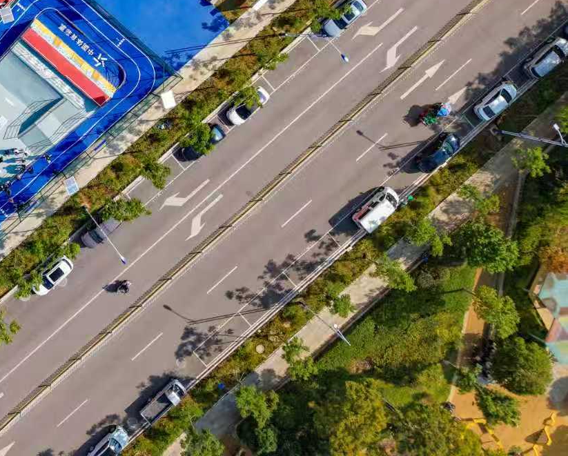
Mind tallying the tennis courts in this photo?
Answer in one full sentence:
No tennis courts are visible.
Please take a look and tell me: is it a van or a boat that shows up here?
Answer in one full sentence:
The one in the frame is a van.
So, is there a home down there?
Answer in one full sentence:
No, the picture doesn't show any home.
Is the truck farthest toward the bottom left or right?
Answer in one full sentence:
You can find the truck farthest toward the bottom on the left side of the picture.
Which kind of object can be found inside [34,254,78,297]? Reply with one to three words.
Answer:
car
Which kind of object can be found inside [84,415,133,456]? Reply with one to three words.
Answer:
truck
